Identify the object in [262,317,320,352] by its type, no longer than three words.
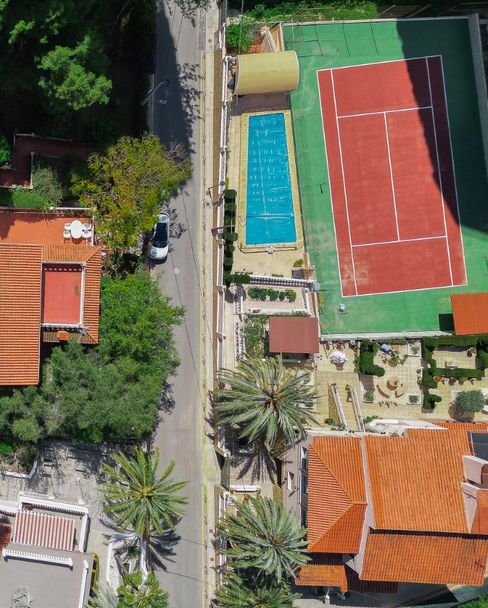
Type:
shed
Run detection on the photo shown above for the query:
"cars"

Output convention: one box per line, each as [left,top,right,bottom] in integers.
[149,213,175,261]
[88,554,105,598]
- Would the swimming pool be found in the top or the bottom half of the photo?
top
